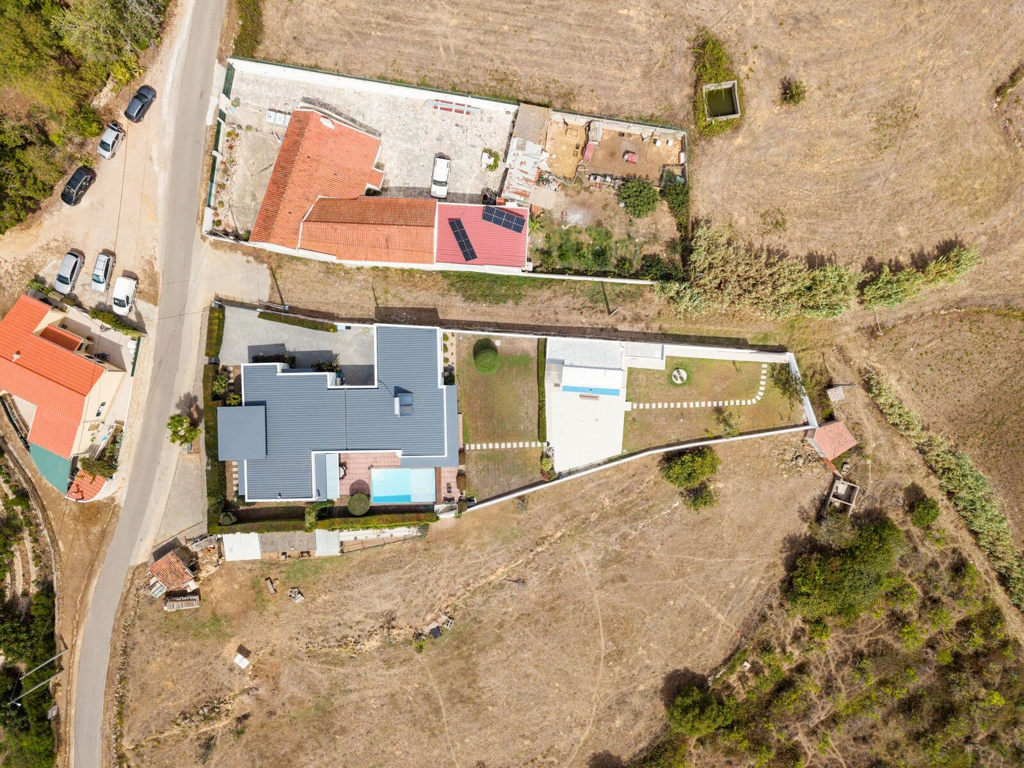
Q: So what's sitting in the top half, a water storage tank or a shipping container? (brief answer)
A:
water storage tank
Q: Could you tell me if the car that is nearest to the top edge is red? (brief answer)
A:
No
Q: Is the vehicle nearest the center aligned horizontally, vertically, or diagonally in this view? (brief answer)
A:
vertically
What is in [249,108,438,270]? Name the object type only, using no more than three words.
house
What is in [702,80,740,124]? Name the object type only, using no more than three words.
water tank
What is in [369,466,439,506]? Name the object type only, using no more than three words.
swimming pool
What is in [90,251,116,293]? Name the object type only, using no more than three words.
car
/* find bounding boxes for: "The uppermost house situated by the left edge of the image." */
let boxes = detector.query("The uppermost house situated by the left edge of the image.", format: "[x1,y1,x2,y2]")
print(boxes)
[0,293,129,461]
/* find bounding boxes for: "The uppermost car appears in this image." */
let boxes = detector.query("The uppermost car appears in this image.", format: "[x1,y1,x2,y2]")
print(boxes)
[124,84,157,124]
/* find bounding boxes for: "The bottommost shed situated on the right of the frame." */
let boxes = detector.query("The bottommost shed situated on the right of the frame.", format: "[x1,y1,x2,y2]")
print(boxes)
[806,421,858,461]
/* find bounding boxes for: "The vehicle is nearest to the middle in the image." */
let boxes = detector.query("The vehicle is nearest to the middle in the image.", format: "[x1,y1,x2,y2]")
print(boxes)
[430,153,451,199]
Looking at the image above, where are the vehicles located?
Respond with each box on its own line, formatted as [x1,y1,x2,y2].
[111,275,138,316]
[55,251,86,293]
[90,251,116,293]
[61,165,97,206]
[124,84,157,124]
[430,153,451,199]
[99,118,127,160]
